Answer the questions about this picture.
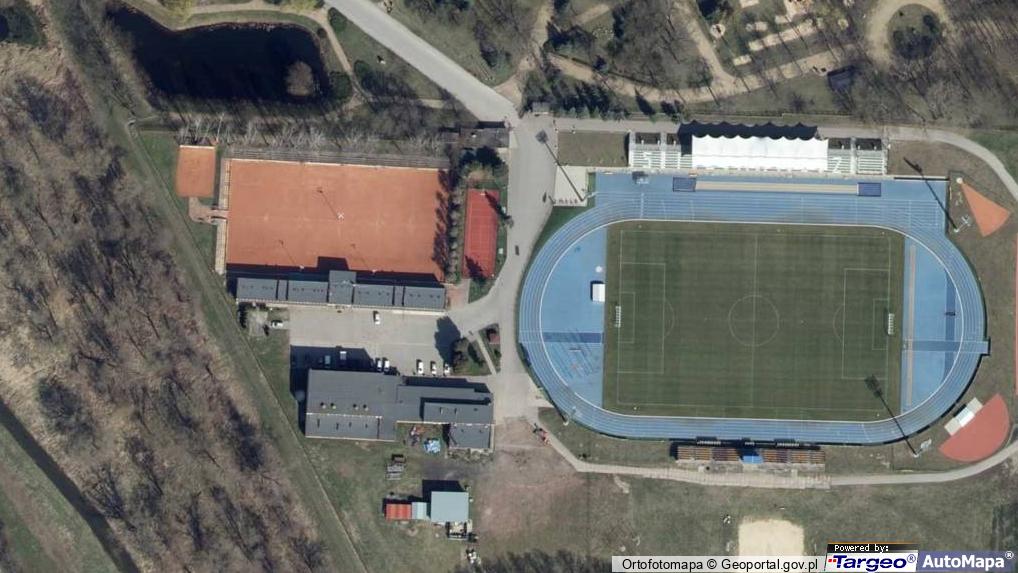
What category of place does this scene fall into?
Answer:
sports ground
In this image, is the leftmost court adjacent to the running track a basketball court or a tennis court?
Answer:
tennis court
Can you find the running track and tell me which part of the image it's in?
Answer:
right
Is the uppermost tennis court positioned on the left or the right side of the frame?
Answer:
left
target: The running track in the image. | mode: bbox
[519,173,989,445]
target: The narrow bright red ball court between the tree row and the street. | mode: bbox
[463,189,499,279]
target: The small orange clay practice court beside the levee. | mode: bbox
[175,144,217,197]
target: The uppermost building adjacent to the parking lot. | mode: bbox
[236,268,446,315]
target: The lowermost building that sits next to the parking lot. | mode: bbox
[303,370,494,449]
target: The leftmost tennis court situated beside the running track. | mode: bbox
[227,160,448,279]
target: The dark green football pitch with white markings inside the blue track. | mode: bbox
[601,222,904,422]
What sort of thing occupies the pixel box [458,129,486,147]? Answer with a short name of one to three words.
shed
